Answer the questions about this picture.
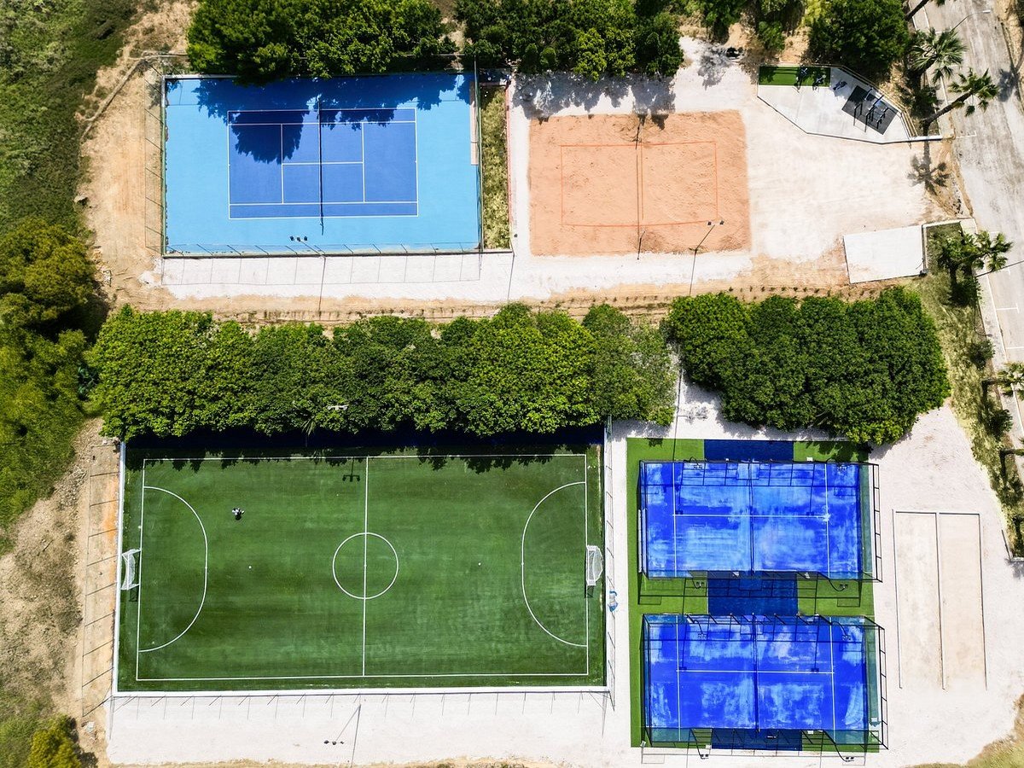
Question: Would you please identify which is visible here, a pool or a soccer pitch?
soccer pitch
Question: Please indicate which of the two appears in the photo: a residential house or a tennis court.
tennis court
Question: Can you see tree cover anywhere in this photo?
Yes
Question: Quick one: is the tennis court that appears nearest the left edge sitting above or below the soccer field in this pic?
above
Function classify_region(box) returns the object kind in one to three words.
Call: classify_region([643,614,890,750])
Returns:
sports court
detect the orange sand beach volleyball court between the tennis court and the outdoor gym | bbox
[530,110,750,255]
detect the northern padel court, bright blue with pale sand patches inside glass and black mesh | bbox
[640,460,883,583]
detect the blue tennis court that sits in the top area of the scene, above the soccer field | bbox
[165,72,479,254]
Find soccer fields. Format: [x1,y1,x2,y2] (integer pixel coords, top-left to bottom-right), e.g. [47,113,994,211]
[116,418,606,692]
